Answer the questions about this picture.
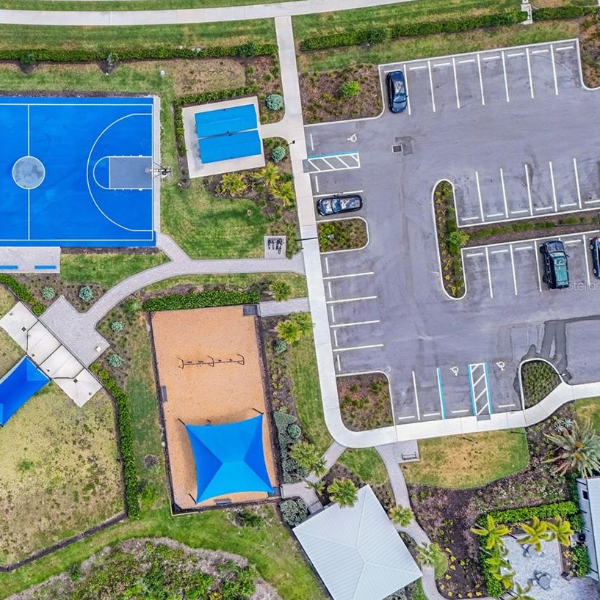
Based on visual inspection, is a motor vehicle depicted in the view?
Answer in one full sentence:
Yes, the picture does show a motor vehicle.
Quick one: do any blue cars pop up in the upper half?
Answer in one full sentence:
Yes, a blue car can be seen in the upper half.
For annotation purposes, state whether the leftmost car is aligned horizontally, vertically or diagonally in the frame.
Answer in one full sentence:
From this overhead view, the leftmost car appears to run horizontally.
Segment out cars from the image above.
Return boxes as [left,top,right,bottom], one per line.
[539,242,570,289]
[315,194,363,216]
[587,237,600,278]
[383,69,410,115]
